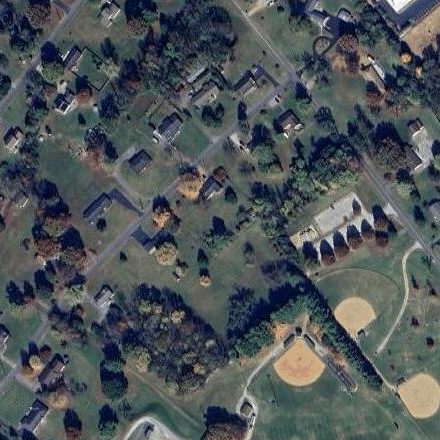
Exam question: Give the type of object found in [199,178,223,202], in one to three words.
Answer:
house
